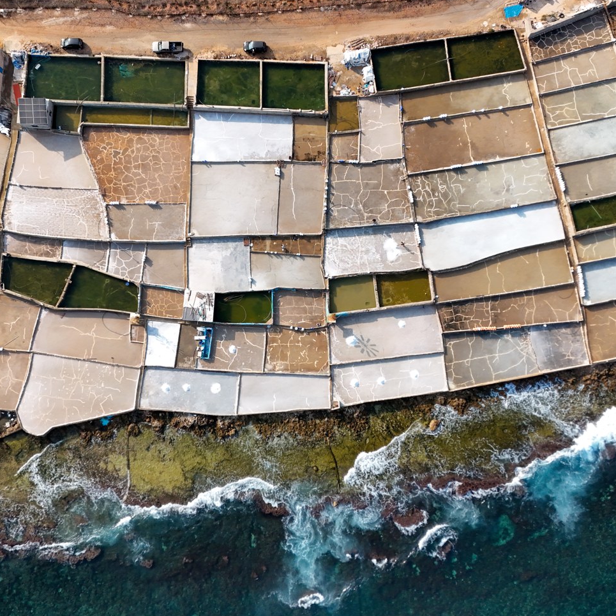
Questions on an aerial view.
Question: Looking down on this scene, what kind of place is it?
industrial area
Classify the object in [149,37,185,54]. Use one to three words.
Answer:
vehicle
